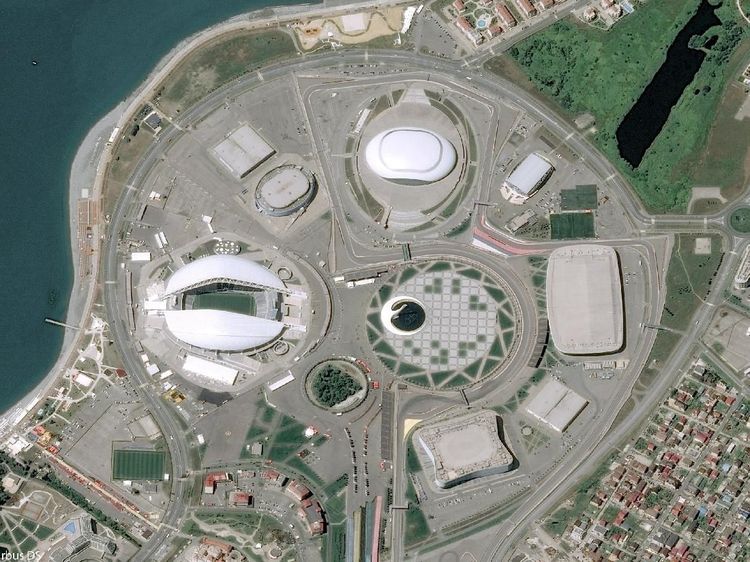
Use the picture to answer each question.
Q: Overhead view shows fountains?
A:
Yes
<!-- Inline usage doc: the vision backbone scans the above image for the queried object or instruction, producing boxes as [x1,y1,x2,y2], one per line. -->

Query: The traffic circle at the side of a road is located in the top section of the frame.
[719,198,750,242]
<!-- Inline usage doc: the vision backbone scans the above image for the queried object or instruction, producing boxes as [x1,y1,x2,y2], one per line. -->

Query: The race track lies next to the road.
[301,73,663,562]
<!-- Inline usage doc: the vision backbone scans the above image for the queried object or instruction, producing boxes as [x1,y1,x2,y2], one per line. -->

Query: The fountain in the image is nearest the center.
[382,296,426,335]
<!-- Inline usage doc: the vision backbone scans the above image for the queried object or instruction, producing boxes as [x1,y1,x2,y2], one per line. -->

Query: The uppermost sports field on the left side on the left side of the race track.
[193,295,256,315]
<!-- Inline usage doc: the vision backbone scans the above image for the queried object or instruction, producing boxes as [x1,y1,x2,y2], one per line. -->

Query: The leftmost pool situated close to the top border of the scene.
[478,14,491,30]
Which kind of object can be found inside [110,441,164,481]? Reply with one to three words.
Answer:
soccer field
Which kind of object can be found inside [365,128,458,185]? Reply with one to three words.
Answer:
stadium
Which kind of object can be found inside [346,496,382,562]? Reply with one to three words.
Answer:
train station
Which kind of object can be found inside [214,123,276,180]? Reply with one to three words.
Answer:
building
